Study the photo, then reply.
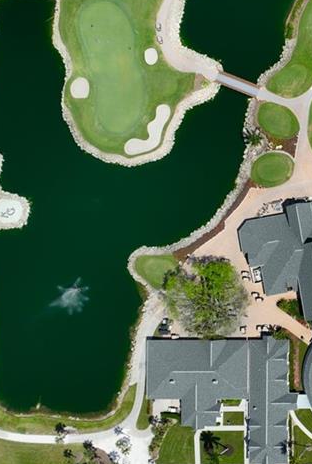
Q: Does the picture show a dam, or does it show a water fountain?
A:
water fountain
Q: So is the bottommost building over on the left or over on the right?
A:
right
